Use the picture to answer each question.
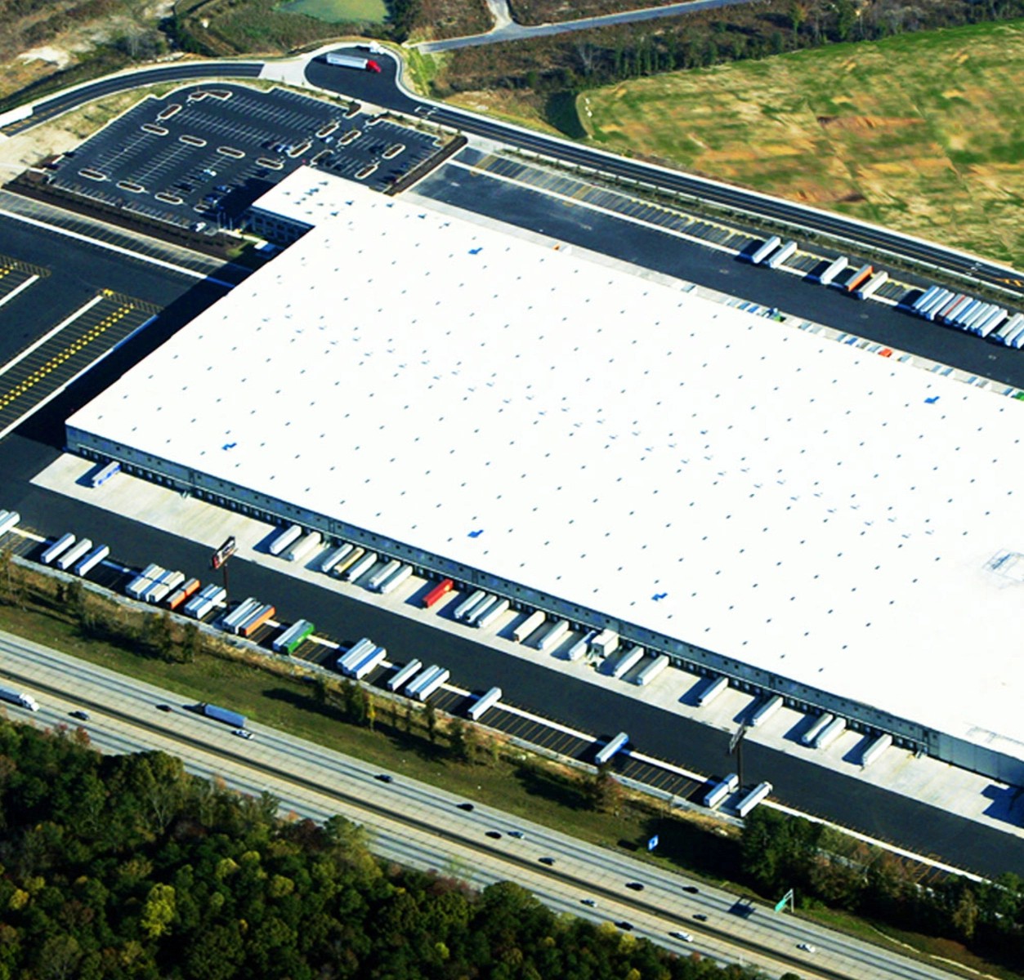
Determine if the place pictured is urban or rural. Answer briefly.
urban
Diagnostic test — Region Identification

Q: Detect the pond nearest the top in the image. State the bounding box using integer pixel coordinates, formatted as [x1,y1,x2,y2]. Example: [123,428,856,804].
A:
[276,0,389,24]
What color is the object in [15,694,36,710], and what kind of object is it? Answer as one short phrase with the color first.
white vehicle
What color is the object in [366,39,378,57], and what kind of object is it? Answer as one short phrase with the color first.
white vehicle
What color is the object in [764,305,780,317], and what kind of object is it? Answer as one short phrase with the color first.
blue vehicle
